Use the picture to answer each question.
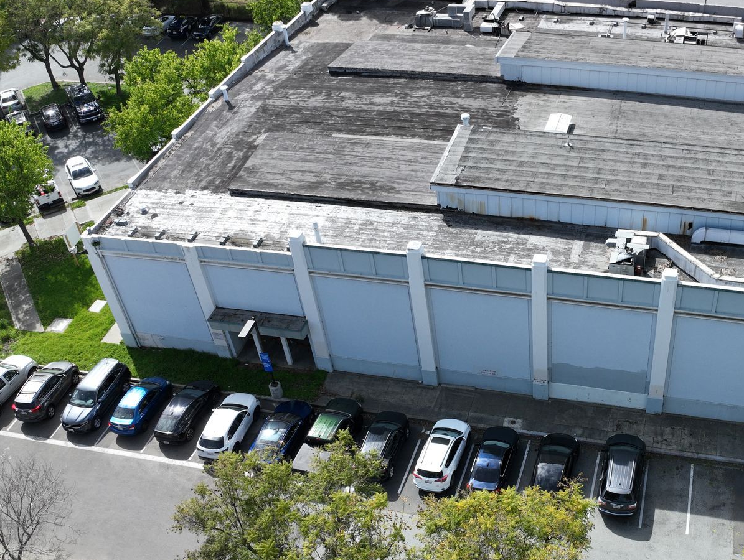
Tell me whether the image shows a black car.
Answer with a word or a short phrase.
Yes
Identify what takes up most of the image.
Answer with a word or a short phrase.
buildings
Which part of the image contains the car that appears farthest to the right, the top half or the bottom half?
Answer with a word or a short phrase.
bottom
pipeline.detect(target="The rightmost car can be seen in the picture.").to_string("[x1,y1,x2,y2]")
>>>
[597,441,644,516]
